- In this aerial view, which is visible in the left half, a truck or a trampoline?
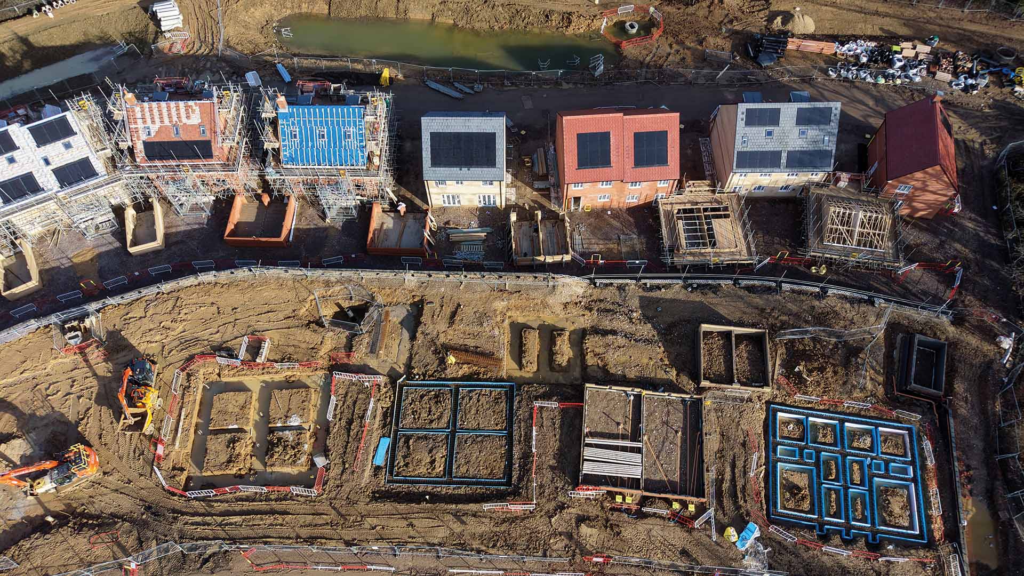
truck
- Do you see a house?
Yes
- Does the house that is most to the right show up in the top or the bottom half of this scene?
top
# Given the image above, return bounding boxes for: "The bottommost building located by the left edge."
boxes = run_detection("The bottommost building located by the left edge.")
[0,238,53,309]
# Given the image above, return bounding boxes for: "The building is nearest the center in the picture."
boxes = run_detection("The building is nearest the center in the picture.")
[506,213,577,275]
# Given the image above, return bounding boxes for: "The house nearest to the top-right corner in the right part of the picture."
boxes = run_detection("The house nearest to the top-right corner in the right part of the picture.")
[871,87,959,222]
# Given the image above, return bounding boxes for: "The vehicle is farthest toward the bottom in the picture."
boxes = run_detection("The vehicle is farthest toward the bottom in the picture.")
[0,445,97,504]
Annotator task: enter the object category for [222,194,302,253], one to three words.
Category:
building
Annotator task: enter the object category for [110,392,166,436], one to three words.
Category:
truck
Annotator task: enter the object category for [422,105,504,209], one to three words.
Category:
house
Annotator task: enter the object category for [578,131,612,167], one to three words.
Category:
solar panel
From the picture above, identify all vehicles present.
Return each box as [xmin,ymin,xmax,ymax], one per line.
[110,392,166,436]
[0,445,97,504]
[86,356,163,428]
